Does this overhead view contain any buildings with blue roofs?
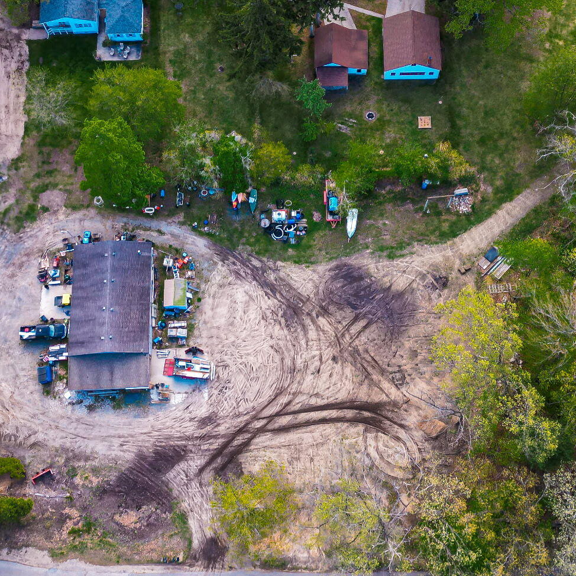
Yes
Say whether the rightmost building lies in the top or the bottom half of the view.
top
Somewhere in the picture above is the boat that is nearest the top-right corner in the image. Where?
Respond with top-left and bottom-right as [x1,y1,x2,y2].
[347,205,360,245]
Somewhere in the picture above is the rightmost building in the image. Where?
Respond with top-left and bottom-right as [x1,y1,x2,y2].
[381,13,441,78]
